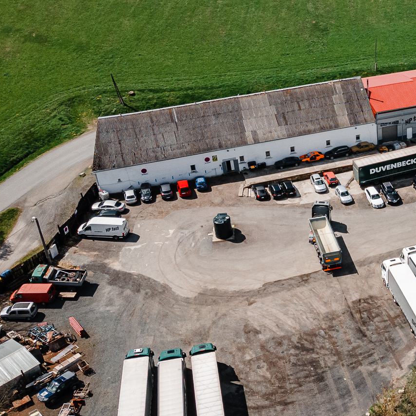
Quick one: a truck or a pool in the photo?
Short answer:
truck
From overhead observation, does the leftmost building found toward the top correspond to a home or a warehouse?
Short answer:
warehouse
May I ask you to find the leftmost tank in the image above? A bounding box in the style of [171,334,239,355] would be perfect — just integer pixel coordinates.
[210,214,237,245]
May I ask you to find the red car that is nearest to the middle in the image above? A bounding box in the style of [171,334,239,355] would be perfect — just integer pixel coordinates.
[175,181,191,198]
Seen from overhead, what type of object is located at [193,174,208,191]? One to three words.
car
